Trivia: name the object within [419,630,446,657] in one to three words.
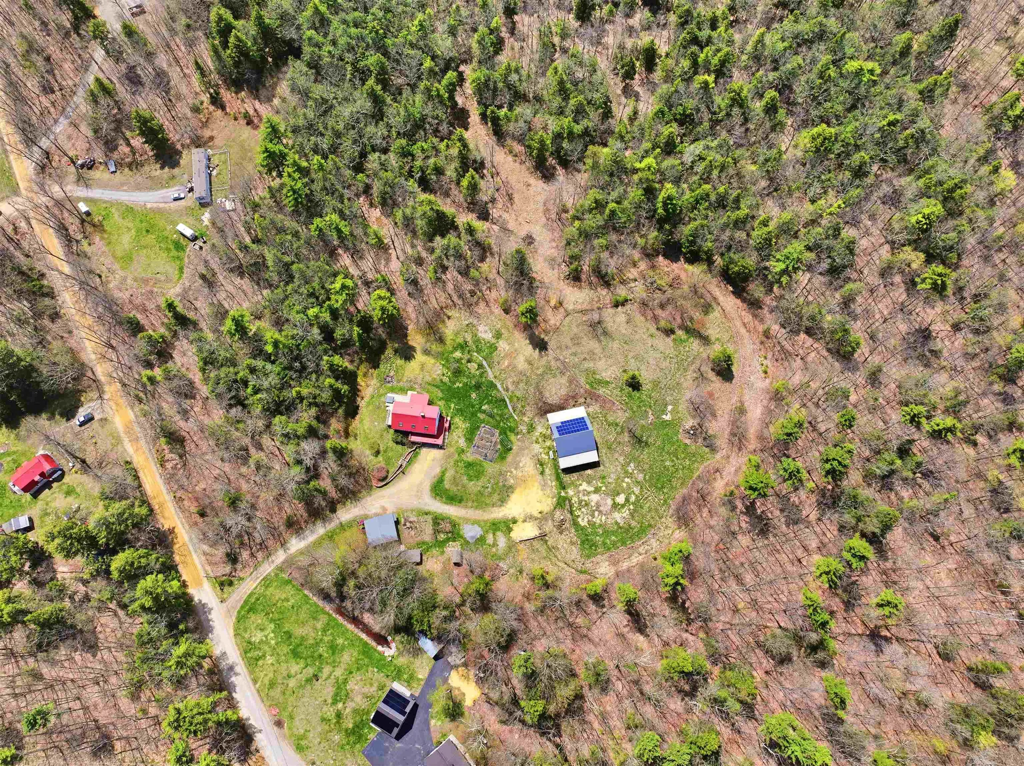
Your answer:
shed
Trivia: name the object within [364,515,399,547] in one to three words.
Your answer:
shed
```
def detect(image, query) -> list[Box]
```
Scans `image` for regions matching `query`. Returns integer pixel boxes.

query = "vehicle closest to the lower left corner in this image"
[74,412,94,425]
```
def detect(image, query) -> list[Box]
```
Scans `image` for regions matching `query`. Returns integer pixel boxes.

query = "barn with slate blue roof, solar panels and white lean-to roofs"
[548,406,599,469]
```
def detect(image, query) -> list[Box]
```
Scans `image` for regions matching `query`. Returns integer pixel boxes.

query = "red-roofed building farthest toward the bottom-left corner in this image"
[10,449,61,499]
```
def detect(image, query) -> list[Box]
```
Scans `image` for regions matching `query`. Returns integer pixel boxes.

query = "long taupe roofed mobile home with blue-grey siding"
[192,150,216,204]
